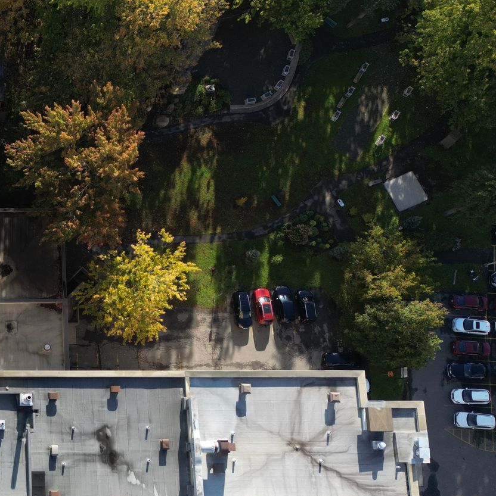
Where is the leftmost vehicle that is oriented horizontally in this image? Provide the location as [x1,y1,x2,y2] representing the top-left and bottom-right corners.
[318,351,361,369]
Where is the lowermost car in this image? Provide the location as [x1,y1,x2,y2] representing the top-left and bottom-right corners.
[452,410,496,430]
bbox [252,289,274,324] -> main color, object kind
red car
